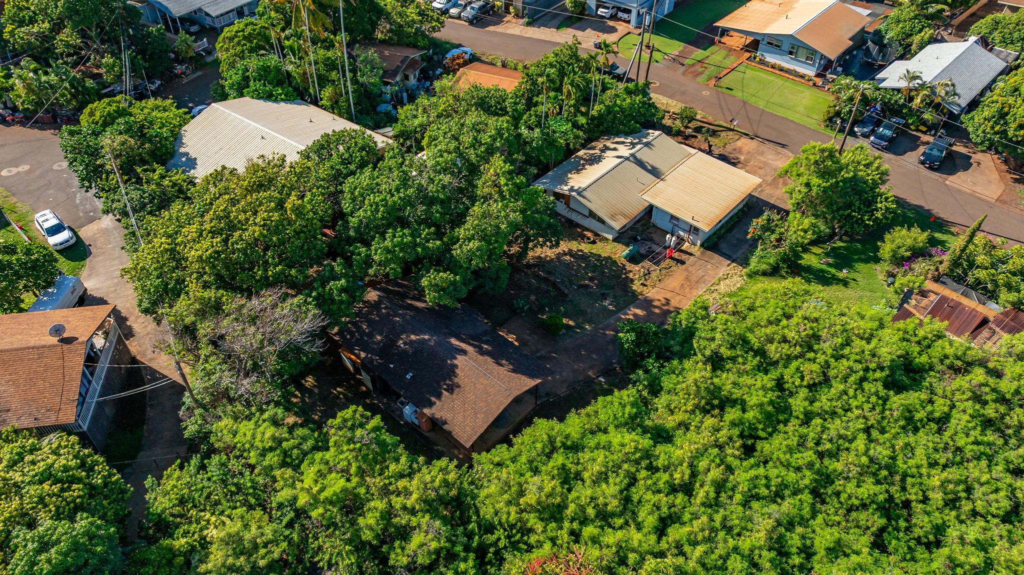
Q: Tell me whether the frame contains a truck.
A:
Yes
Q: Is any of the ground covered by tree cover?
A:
Yes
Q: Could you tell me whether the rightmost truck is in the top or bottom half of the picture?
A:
top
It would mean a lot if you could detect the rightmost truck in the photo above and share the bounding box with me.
[922,126,964,165]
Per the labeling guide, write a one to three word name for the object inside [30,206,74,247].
car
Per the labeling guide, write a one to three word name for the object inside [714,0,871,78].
house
